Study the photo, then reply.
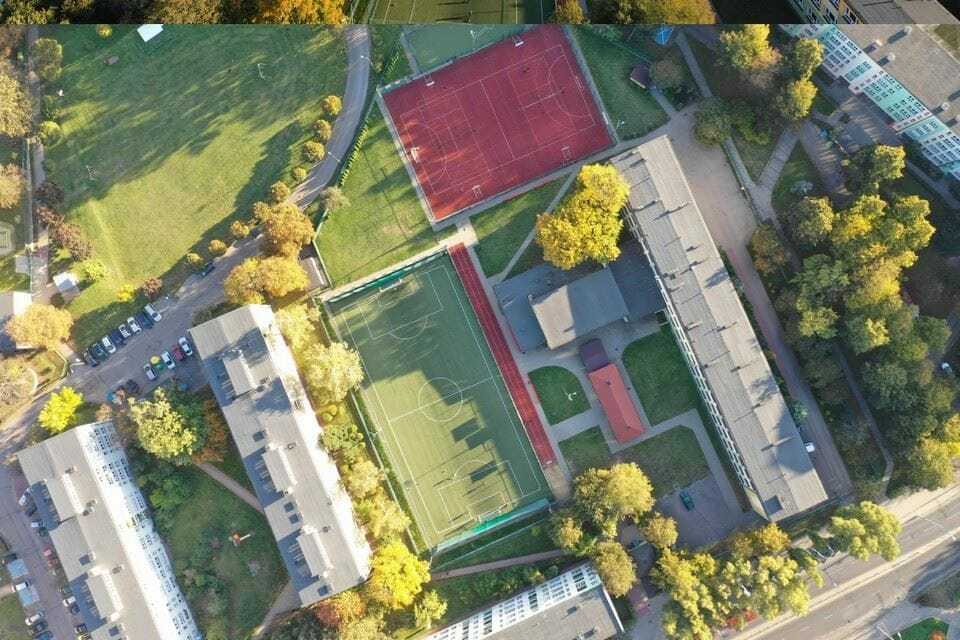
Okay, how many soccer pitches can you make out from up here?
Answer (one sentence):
I count 1 soccer pitch.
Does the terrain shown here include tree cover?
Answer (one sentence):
Yes, tree cover shows up in the scene.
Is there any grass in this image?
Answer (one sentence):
Yes, the picture does contain grass.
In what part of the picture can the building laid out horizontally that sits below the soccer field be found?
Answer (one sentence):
The building laid out horizontally that sits below the soccer field is in the bottom part of the image.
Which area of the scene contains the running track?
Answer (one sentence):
You can find the running track in the center area of the picture.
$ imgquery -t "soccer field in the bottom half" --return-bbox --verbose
[327,253,549,549]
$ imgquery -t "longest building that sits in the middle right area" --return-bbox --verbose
[606,134,822,522]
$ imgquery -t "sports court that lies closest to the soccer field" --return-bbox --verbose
[382,24,618,222]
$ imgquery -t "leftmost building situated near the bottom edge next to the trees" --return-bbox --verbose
[16,422,198,640]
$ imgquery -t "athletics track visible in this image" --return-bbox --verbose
[449,241,556,466]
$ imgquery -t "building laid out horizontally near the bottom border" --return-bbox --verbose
[445,559,634,640]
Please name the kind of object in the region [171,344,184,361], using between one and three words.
vehicle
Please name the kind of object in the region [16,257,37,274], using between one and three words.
building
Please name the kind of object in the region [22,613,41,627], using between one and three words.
car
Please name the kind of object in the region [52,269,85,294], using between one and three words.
shed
